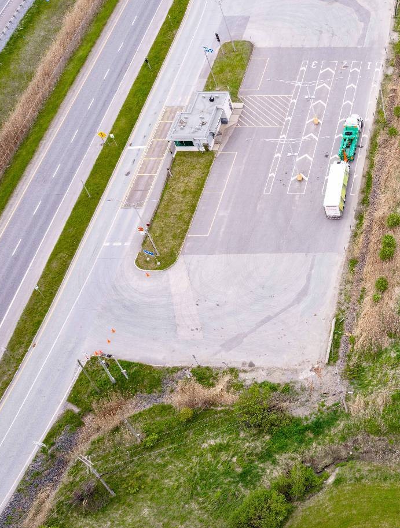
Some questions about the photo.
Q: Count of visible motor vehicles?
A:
2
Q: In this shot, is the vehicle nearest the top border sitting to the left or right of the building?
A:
to the right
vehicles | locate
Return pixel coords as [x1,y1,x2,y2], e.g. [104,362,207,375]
[340,116,361,168]
[325,163,348,218]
